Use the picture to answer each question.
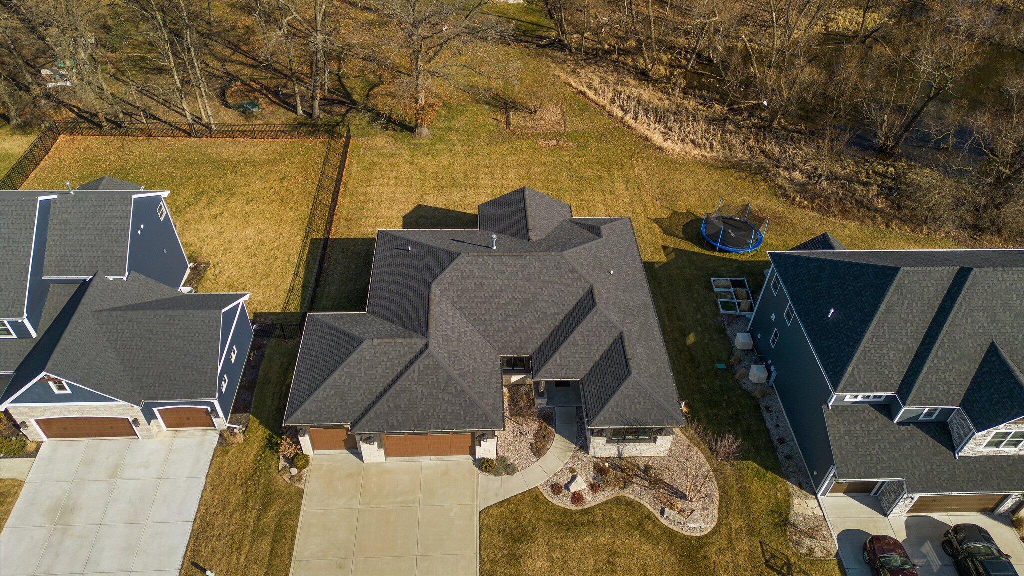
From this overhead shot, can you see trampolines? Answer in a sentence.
Yes, this view includes a trampoline.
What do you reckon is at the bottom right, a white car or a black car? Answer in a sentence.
It is a black car that can be seen at the bottom right.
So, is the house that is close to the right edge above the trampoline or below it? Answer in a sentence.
The house that is close to the right edge is below the trampoline.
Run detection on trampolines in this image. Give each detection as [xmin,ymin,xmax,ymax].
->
[697,196,774,260]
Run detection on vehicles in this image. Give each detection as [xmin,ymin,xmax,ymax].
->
[946,525,1020,576]
[864,534,924,576]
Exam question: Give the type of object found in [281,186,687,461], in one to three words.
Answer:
house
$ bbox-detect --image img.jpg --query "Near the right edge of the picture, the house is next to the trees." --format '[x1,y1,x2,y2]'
[749,233,1024,515]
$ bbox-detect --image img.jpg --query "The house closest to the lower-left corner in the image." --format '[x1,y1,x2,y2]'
[0,174,254,441]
